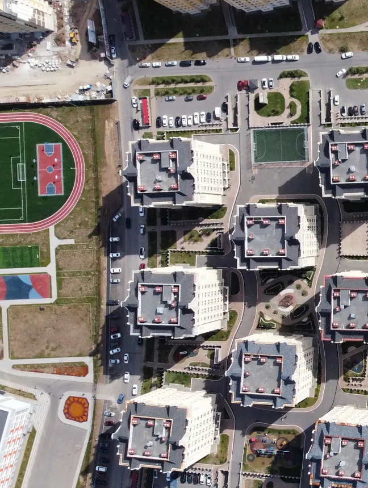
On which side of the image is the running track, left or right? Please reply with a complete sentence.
It is on the left.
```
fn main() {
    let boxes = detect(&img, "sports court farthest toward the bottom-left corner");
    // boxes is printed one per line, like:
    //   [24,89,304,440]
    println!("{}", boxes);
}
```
[0,274,50,299]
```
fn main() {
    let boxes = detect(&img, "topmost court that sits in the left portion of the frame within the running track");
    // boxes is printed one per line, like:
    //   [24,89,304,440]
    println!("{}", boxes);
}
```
[29,143,63,196]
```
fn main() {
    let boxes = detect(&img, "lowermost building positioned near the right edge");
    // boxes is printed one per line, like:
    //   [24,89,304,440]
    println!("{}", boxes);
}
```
[307,400,368,488]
